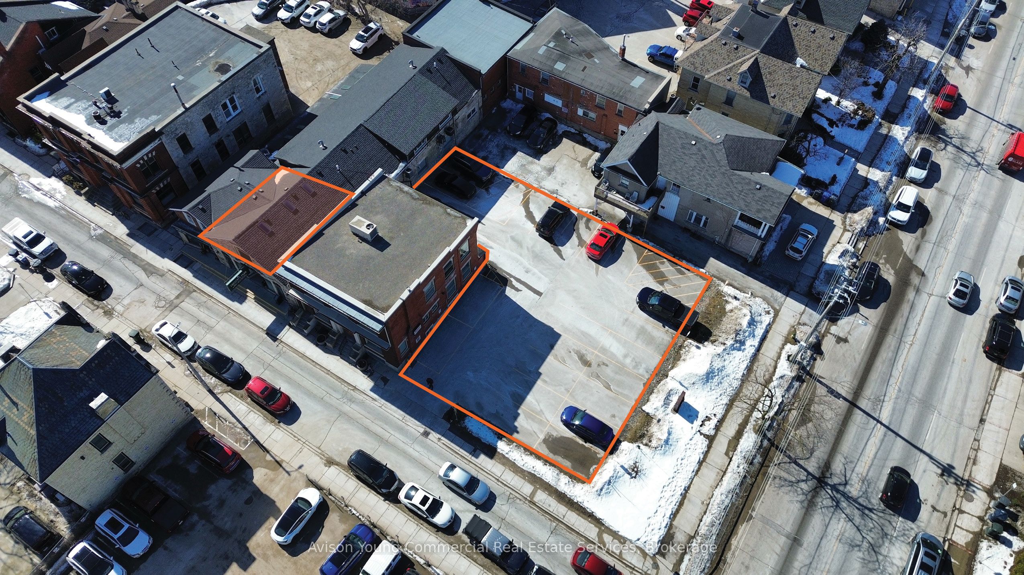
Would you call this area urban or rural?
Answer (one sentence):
From above, the setting appears urban.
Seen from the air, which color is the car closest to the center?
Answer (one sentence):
From above, the car closest to the center appears black.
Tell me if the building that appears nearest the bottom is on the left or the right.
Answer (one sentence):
The building that appears nearest the bottom is on the left side of the image.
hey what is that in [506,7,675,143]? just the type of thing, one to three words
building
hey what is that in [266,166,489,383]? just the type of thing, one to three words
building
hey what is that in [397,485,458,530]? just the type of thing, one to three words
car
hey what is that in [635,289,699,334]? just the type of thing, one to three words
truck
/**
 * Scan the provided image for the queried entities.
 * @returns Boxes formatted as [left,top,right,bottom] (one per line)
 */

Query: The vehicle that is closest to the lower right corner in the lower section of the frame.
[899,524,947,575]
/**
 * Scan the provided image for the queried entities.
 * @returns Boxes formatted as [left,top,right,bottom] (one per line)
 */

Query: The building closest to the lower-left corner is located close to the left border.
[0,299,190,522]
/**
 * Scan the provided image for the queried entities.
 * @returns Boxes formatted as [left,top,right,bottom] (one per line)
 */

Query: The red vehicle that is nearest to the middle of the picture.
[587,223,620,260]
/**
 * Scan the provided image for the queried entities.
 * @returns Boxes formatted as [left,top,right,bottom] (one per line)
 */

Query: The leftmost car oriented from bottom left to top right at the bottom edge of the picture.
[265,489,326,547]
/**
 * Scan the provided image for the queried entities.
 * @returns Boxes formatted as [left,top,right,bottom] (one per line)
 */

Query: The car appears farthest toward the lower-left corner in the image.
[0,508,66,559]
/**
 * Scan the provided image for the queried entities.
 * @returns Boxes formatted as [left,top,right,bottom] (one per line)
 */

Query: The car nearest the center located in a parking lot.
[535,200,571,241]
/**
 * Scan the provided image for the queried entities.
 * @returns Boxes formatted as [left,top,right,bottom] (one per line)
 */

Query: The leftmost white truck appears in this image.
[0,218,61,256]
